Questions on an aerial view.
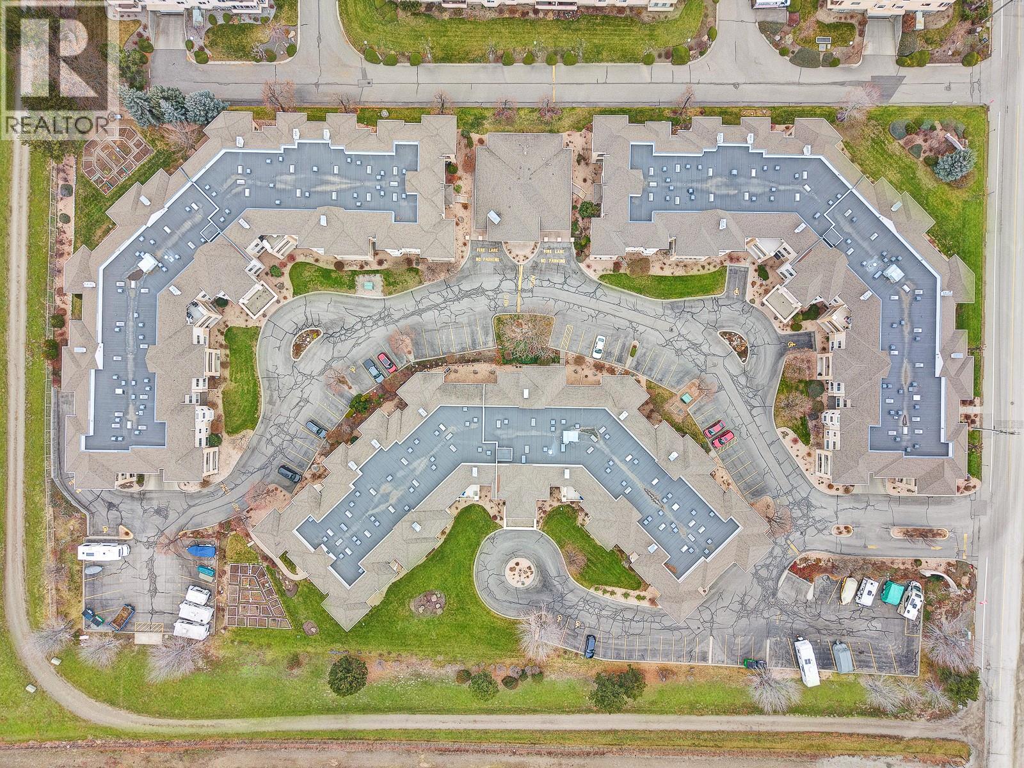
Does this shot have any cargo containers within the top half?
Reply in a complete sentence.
No, there is no cargo container within the top half.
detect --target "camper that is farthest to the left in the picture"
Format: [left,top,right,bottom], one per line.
[78,542,138,560]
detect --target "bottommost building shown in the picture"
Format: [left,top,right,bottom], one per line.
[250,366,775,632]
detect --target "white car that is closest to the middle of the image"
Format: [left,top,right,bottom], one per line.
[592,334,606,359]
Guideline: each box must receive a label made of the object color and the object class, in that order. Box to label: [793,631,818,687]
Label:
white trailer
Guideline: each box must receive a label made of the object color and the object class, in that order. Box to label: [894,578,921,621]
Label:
white camper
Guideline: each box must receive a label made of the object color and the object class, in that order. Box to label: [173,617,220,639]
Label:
white trailer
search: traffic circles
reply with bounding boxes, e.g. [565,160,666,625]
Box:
[504,554,542,590]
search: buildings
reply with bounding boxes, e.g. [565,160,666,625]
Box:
[250,366,775,632]
[465,132,574,244]
[61,111,458,490]
[828,0,959,22]
[588,115,975,495]
[382,0,679,12]
[103,0,275,19]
